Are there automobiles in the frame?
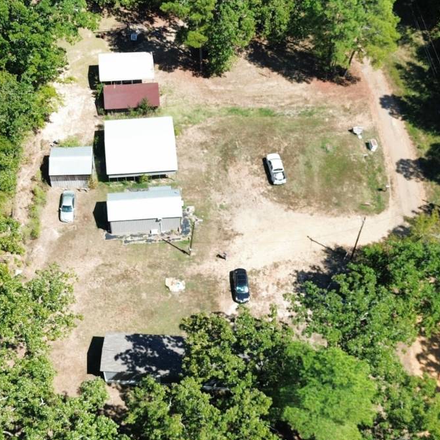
Yes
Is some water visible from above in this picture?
No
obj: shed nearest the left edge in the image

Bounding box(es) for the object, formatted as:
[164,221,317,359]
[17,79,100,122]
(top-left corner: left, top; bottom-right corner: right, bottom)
[49,149,92,187]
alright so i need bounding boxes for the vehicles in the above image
[230,268,252,305]
[57,191,77,224]
[264,152,290,188]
